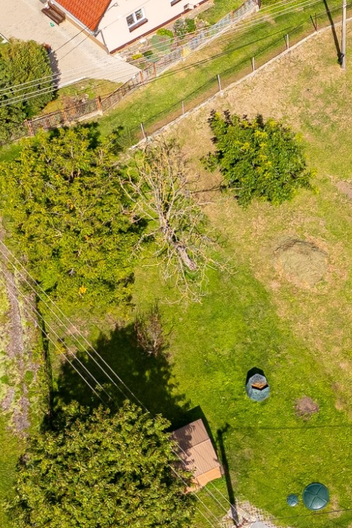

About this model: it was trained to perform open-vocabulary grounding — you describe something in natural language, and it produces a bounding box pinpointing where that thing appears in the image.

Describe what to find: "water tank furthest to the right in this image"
[302,481,328,512]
